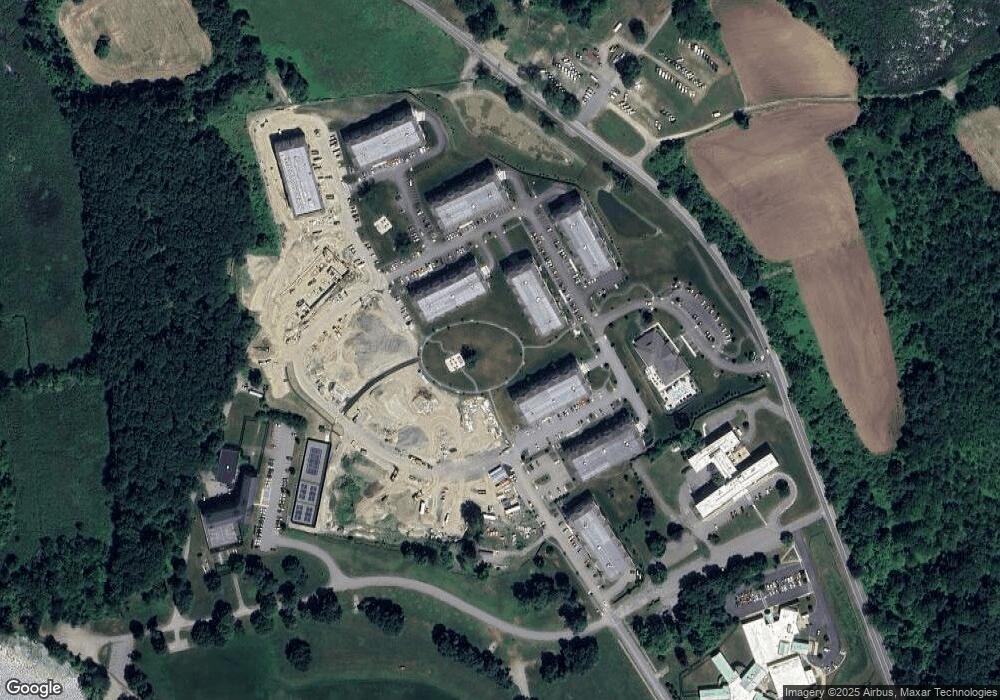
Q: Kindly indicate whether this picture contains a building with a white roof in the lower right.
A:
Yes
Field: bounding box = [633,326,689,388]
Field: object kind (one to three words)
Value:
building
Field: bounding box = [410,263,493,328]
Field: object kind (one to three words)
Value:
building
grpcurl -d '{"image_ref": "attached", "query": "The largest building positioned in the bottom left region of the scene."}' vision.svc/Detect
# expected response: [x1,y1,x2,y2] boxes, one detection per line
[201,475,257,553]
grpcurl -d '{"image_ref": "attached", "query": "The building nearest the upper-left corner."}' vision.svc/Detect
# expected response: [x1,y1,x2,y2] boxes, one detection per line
[273,140,327,220]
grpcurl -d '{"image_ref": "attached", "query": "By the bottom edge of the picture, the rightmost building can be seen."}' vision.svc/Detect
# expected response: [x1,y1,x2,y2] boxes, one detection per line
[699,606,816,700]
